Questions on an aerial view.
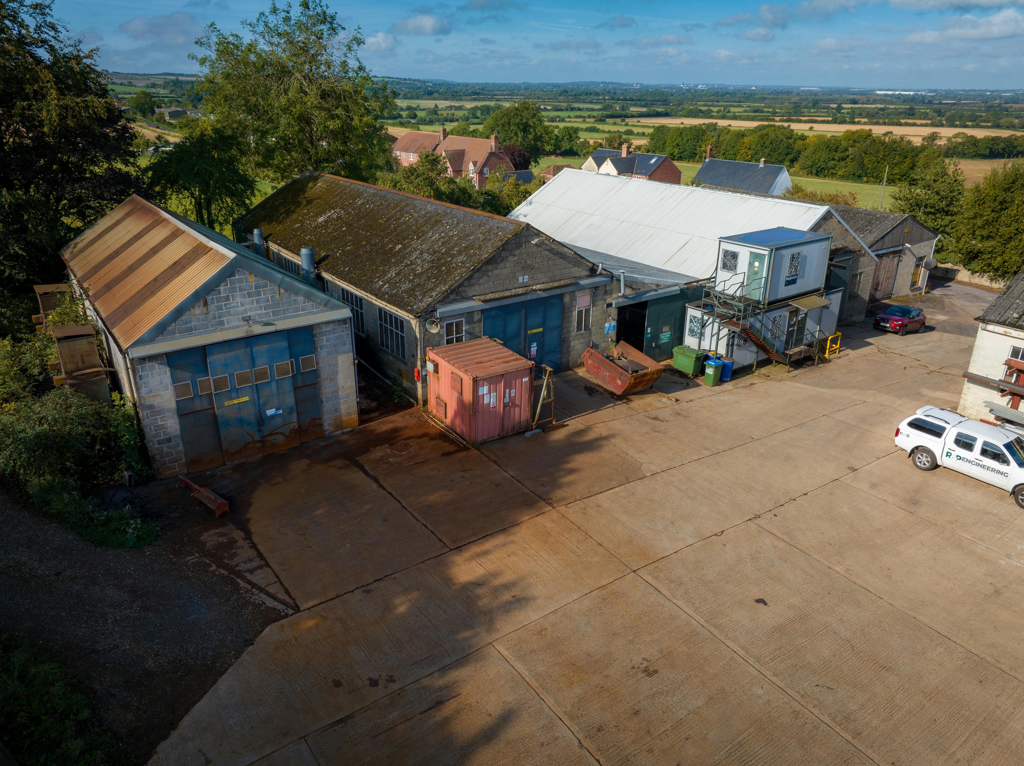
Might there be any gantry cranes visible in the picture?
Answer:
No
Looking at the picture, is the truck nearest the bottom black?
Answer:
No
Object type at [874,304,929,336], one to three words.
car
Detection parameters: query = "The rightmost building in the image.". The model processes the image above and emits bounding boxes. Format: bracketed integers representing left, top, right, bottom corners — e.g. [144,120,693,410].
[957,261,1024,423]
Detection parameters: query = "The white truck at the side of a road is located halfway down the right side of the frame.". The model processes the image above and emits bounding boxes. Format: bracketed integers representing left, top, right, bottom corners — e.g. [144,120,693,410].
[890,402,1024,511]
